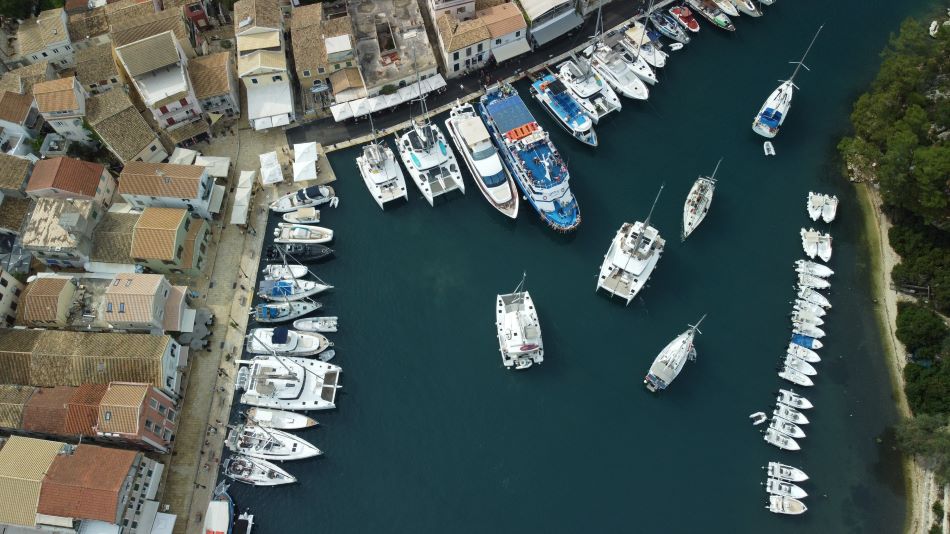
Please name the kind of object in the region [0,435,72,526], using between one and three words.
house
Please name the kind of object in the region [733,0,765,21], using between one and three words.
boat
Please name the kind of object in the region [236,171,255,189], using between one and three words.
umbrella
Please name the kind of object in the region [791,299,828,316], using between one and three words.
boat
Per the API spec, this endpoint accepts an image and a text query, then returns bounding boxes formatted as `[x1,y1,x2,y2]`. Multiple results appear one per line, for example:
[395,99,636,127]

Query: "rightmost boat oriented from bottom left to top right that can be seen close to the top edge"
[753,24,830,140]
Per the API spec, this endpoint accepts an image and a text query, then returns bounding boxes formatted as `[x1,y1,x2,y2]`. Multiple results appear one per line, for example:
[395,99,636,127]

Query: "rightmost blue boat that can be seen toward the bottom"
[788,333,824,350]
